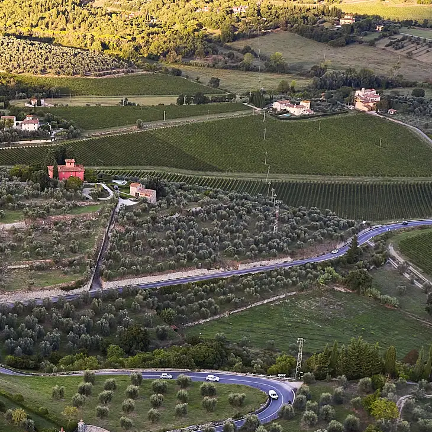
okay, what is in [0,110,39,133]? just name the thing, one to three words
house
